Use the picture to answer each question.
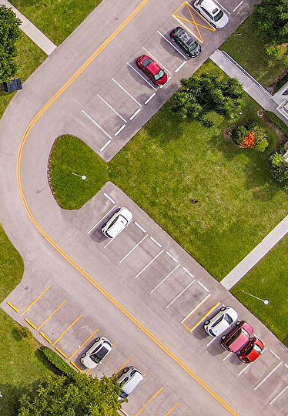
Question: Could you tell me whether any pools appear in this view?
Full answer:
No, there isn't any pool down there.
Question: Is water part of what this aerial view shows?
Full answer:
No, water can't be seen anywhere here.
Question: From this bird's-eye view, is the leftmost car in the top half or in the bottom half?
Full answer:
The leftmost car sits in the bottom half of the picture.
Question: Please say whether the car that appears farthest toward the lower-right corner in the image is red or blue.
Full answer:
The color of the car that appears farthest toward the lower-right corner is red.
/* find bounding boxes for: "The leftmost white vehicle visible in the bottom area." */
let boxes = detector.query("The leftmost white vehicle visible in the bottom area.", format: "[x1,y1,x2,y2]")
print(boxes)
[81,336,115,369]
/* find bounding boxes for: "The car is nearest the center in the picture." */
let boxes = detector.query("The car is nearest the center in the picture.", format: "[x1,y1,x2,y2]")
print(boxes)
[100,206,135,240]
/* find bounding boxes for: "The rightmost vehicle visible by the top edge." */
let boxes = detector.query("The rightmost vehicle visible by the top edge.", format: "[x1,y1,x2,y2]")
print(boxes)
[192,0,231,29]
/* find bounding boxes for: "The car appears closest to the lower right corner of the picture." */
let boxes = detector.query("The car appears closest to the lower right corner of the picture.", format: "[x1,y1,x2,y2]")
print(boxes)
[236,335,267,366]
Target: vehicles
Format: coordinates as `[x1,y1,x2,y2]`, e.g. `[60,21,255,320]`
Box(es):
[236,335,267,366]
[192,0,231,29]
[168,25,202,58]
[81,336,115,369]
[219,318,257,355]
[204,303,239,339]
[113,365,148,401]
[134,52,169,87]
[100,206,135,240]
